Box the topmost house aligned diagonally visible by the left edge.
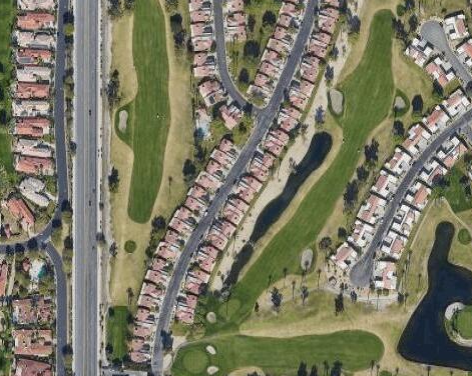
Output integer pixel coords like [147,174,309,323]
[15,175,53,209]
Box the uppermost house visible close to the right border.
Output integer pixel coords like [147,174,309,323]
[443,11,472,43]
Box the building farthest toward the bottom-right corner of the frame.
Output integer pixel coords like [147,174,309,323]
[369,257,402,288]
